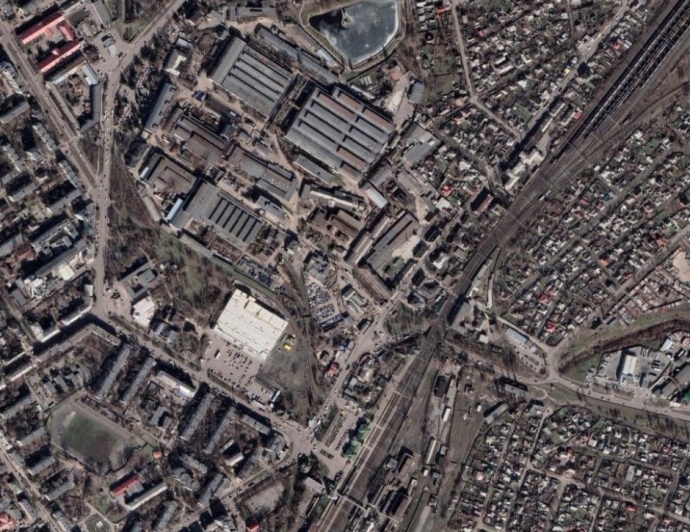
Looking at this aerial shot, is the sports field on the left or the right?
left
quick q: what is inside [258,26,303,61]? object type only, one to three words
building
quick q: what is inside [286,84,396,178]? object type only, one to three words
building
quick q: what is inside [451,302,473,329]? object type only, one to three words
shed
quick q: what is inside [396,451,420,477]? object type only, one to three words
shed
